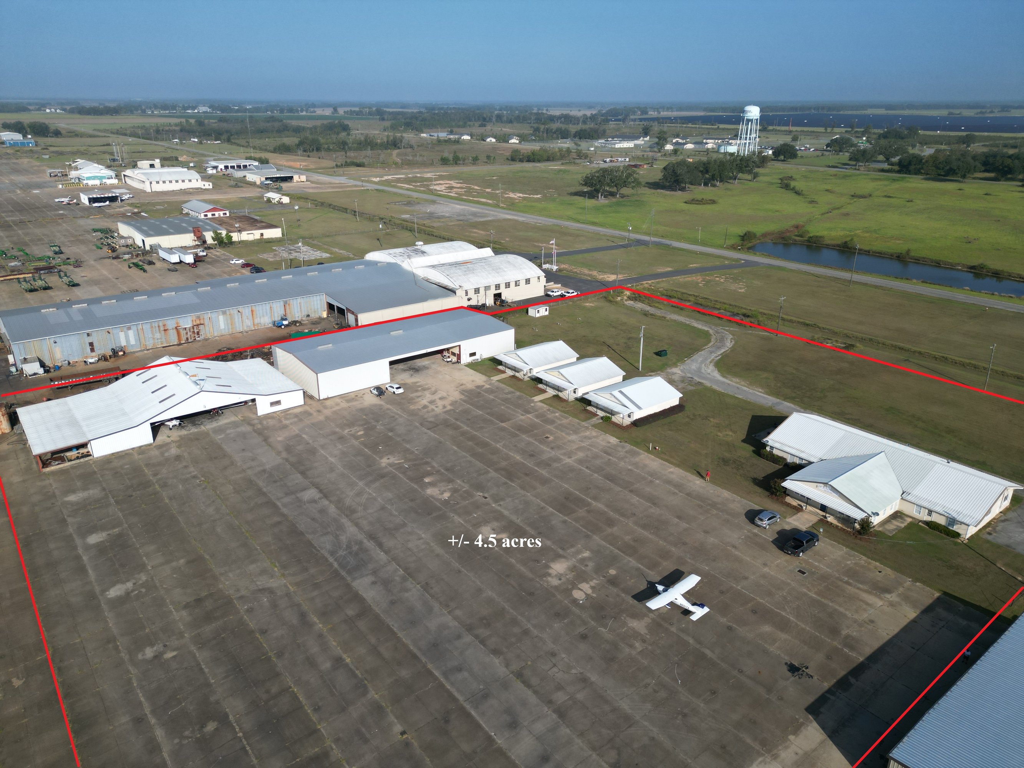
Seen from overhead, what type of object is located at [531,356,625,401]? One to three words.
house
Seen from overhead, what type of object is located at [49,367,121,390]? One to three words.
trailer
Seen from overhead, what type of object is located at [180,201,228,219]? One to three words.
building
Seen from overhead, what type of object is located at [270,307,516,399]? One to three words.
hangar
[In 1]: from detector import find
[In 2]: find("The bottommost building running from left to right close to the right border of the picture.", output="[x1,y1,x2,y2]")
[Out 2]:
[761,411,1024,538]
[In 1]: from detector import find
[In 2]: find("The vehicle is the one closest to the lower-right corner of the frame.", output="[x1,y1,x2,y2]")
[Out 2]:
[786,534,818,555]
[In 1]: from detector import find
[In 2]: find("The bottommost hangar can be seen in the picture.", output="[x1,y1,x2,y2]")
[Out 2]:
[887,611,1024,768]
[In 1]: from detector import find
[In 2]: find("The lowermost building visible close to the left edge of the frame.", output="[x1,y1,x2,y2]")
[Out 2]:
[17,356,304,472]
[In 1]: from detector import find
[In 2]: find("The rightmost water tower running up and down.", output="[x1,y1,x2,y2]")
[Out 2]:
[736,106,759,156]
